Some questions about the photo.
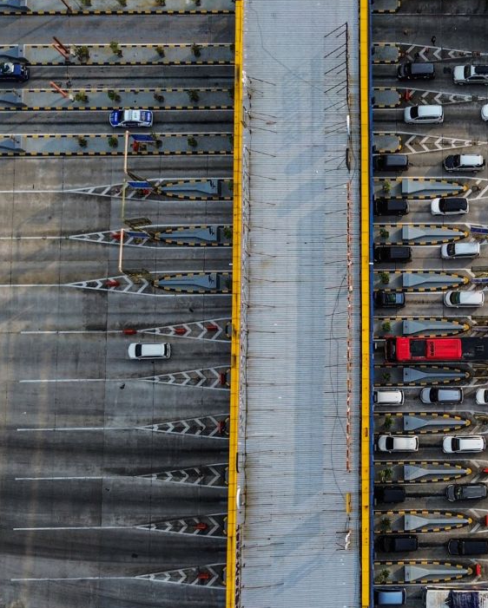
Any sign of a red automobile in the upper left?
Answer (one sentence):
No, no red automobile is visible in the upper left.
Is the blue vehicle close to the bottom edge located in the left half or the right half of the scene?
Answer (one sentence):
The blue vehicle close to the bottom edge sits on the right side.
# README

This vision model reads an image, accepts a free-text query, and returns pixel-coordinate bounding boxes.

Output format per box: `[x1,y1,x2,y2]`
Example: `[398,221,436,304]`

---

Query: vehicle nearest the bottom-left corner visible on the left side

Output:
[128,341,173,361]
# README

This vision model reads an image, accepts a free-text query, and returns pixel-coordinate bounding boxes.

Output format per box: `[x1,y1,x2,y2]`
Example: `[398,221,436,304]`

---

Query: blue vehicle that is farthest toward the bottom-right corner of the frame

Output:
[375,587,409,608]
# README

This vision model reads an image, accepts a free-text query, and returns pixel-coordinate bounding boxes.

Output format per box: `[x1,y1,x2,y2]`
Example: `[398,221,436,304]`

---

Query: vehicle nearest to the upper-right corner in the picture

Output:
[452,62,488,85]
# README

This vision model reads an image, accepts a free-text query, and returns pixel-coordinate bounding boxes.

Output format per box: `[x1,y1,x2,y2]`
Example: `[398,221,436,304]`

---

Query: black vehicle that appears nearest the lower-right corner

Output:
[447,537,488,558]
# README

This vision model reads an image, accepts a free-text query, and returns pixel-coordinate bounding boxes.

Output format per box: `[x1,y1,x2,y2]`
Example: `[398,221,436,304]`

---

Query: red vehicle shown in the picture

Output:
[384,336,488,364]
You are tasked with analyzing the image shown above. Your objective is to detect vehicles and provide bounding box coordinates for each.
[420,385,463,406]
[421,582,488,608]
[374,196,409,217]
[443,289,484,308]
[404,104,444,125]
[110,107,155,128]
[384,336,488,364]
[445,482,488,503]
[430,195,469,217]
[440,239,480,259]
[374,151,410,172]
[128,341,173,361]
[398,60,435,82]
[443,150,487,173]
[375,533,418,554]
[374,289,409,309]
[374,244,413,263]
[377,433,419,453]
[375,485,408,505]
[375,587,409,608]
[447,537,488,558]
[442,434,485,454]
[480,103,488,122]
[375,387,406,408]
[0,62,33,83]
[452,62,488,85]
